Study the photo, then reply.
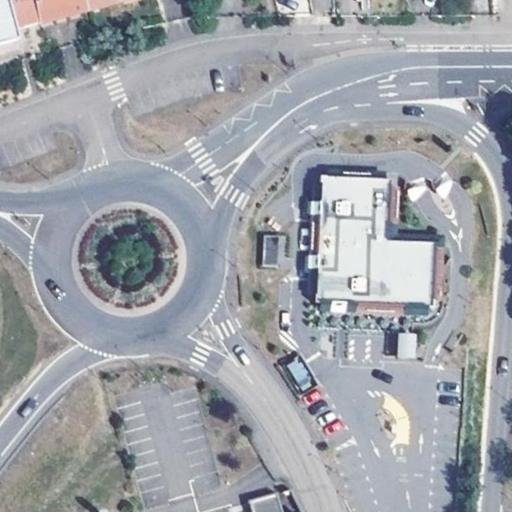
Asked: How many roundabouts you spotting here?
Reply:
1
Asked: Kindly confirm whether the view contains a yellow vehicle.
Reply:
No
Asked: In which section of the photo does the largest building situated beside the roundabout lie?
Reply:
right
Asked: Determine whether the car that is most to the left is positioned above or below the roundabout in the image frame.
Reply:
below it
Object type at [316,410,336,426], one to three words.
car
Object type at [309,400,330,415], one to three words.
car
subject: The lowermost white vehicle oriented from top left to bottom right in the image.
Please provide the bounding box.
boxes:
[232,344,250,366]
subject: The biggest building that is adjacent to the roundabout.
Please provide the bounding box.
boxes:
[308,172,446,316]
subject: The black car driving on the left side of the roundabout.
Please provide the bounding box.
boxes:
[45,279,64,300]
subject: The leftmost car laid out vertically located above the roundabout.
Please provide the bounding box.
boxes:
[212,69,225,92]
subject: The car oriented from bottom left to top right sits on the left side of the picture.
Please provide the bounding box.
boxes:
[18,396,38,416]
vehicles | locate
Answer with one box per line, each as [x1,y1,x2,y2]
[438,395,460,405]
[309,400,330,415]
[212,69,225,92]
[316,410,336,426]
[280,0,302,11]
[372,368,394,384]
[324,420,344,435]
[282,310,292,330]
[300,228,310,250]
[18,396,38,416]
[45,279,64,300]
[232,344,250,366]
[438,382,460,392]
[302,390,322,404]
[403,106,424,116]
[498,356,508,376]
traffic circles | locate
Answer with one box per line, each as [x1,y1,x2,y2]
[30,162,227,358]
